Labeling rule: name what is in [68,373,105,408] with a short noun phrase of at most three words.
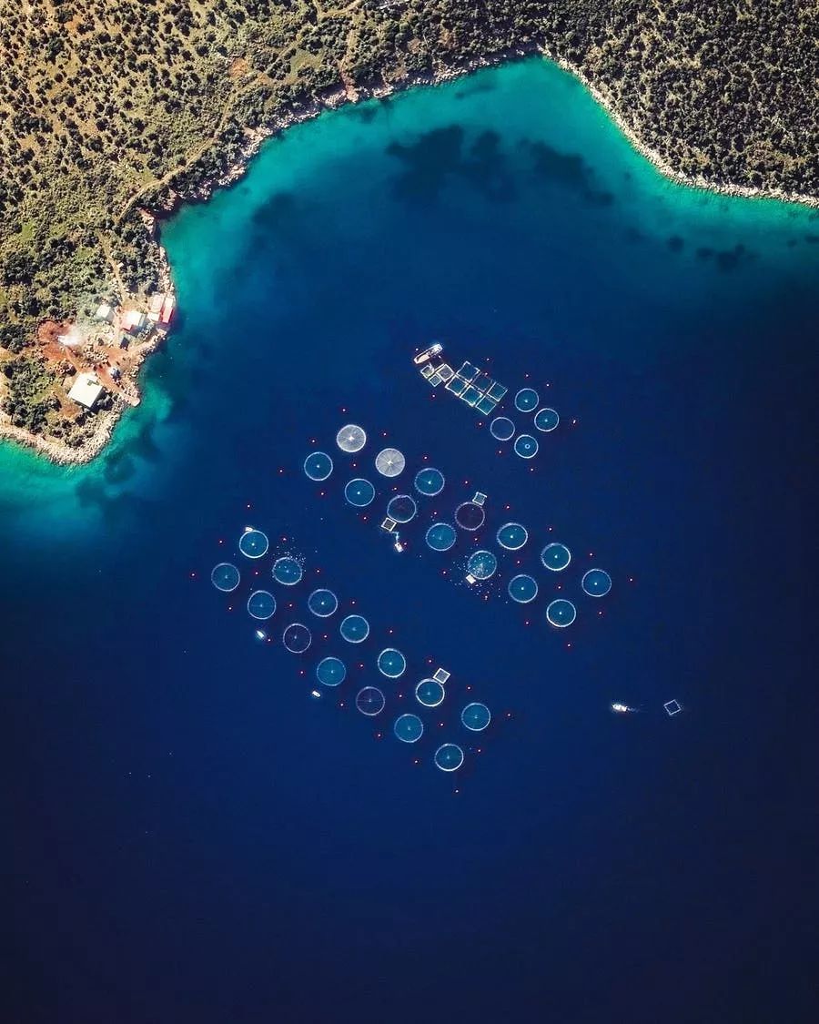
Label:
shed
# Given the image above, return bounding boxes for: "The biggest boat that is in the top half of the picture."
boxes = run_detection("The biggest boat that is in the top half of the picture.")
[414,343,444,362]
